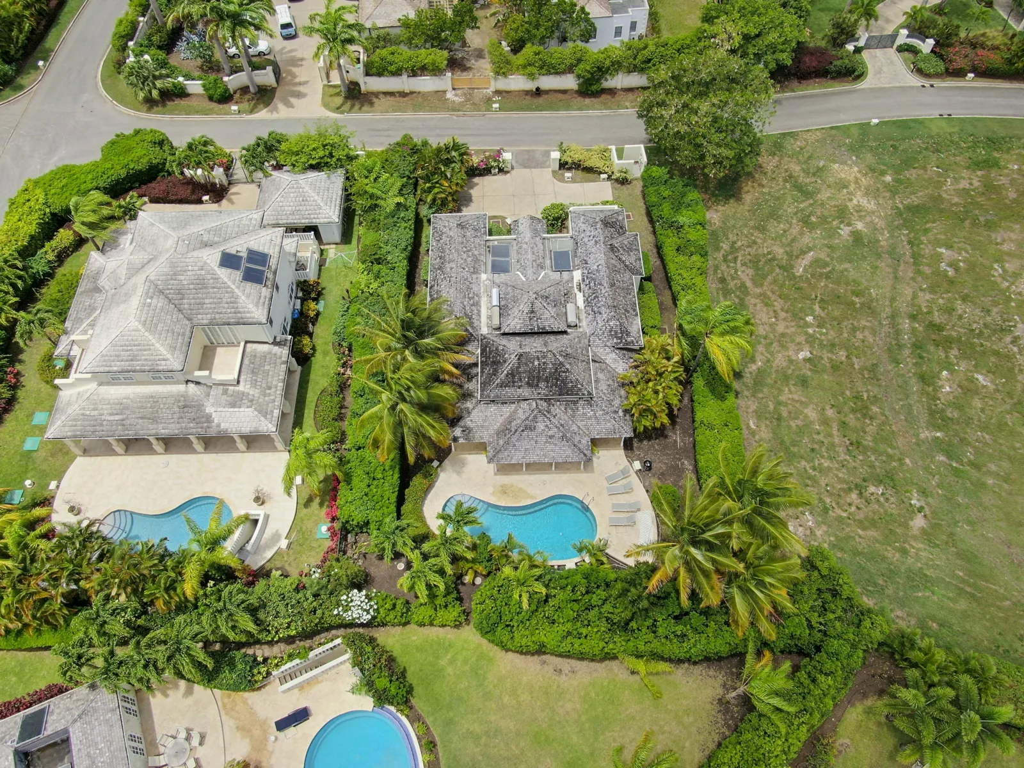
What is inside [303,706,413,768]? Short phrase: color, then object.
blue swimming pool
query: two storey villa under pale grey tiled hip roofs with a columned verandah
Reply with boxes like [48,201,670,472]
[44,209,325,456]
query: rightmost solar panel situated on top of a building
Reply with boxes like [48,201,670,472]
[552,249,572,271]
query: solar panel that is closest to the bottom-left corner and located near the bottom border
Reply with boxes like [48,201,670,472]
[14,704,49,747]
